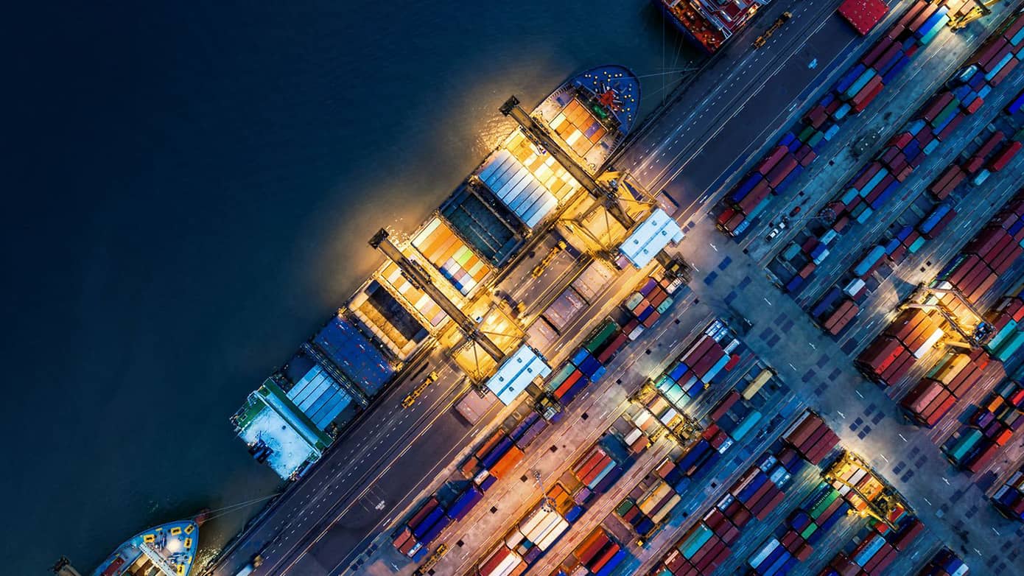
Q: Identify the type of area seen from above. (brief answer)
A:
port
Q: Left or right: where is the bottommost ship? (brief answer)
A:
left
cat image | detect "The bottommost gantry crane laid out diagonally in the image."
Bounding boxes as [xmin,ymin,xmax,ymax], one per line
[815,446,912,529]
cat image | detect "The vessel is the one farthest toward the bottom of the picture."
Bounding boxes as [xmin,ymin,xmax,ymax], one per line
[94,500,219,576]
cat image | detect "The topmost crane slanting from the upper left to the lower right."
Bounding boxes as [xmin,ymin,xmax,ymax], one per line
[499,89,686,274]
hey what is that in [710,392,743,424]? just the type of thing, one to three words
shipping container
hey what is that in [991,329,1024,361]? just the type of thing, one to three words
shipping container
